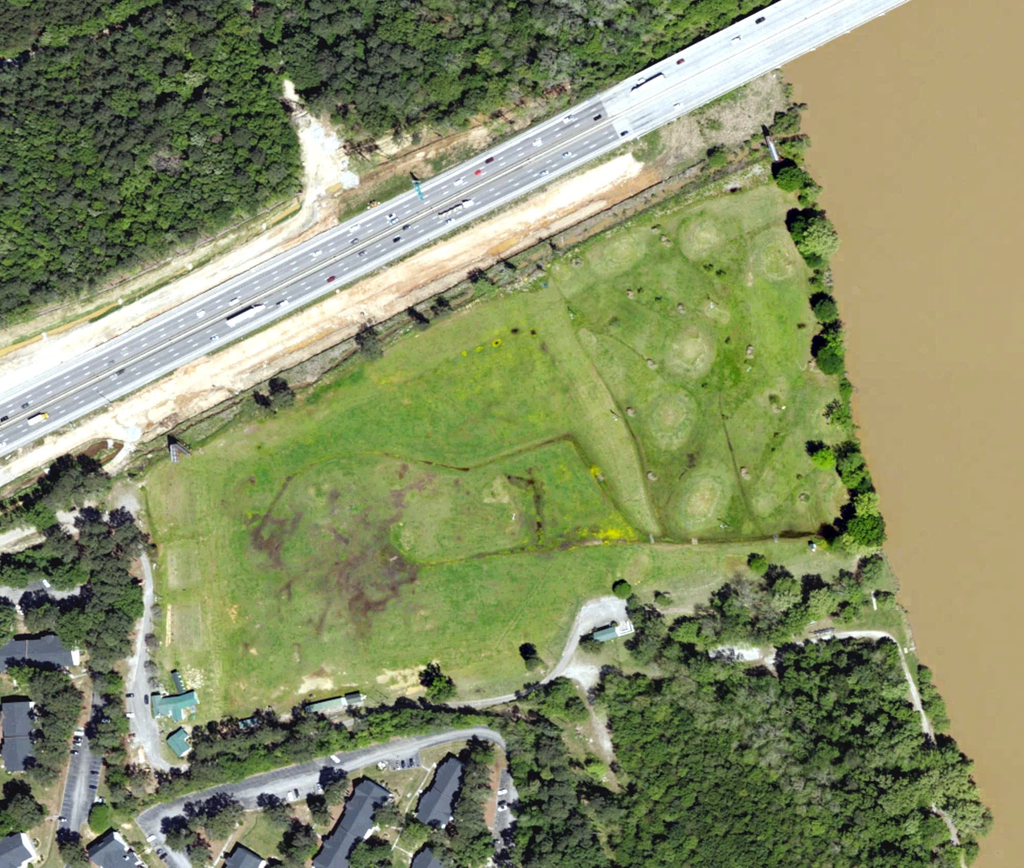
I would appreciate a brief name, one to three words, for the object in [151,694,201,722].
building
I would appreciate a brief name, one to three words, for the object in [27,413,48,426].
vehicle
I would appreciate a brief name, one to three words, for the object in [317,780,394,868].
building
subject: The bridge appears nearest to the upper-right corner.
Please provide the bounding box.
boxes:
[595,0,910,146]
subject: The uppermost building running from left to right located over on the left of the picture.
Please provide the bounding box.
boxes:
[0,634,80,673]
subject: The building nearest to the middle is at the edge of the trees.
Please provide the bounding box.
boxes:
[594,621,633,643]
